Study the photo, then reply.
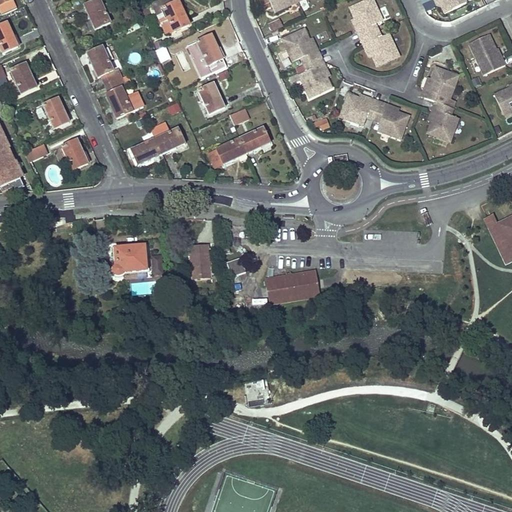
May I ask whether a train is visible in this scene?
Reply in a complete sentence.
No, I find no train anywhere in the image.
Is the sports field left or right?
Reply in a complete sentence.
You can find the sports field on the right side of the picture.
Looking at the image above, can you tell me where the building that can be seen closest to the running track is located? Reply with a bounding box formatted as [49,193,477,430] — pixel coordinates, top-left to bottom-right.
[245,380,272,408]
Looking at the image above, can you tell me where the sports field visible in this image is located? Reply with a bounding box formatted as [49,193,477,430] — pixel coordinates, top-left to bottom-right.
[236,395,512,512]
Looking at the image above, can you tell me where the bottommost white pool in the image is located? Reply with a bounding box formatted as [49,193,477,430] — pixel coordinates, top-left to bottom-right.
[45,164,62,188]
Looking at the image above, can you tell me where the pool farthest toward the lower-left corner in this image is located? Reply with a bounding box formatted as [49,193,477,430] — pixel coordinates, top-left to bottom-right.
[130,280,156,296]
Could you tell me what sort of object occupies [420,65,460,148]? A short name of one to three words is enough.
house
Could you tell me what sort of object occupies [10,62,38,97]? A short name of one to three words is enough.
house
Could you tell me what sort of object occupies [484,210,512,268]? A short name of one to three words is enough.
building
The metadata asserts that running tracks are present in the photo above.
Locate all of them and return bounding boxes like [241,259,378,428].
[157,416,505,512]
